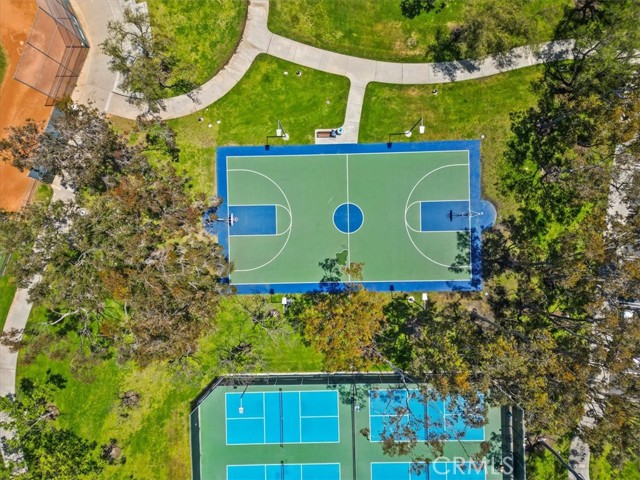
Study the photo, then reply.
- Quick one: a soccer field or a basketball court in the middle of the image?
basketball court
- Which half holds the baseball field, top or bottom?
top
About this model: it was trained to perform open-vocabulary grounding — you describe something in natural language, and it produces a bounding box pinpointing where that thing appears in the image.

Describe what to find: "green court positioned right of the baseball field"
[202,141,498,295]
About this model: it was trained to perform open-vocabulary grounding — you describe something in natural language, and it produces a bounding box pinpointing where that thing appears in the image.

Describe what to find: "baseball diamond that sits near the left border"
[0,0,91,213]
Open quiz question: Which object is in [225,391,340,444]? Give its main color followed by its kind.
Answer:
blue sports court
